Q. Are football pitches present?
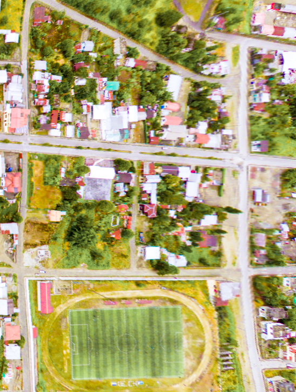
Yes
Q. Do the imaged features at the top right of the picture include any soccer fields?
No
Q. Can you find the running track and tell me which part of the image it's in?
bottom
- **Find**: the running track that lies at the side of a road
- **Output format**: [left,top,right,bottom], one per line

[41,290,213,392]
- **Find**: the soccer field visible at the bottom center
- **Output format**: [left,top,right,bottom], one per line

[69,306,187,380]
